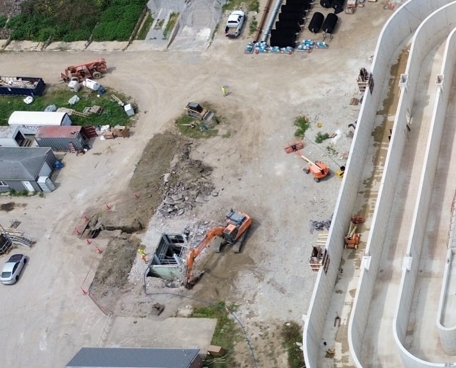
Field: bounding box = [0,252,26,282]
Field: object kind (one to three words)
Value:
car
